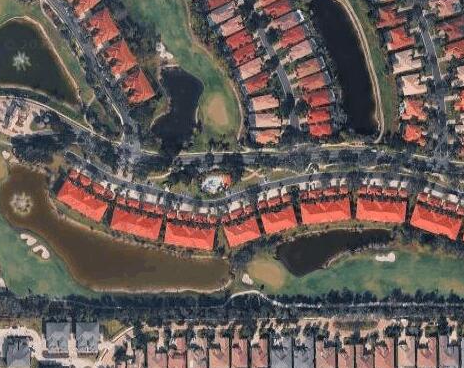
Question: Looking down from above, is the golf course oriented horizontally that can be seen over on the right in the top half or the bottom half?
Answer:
bottom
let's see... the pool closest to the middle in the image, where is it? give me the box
[202,174,222,191]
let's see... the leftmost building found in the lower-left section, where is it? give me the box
[6,337,29,368]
